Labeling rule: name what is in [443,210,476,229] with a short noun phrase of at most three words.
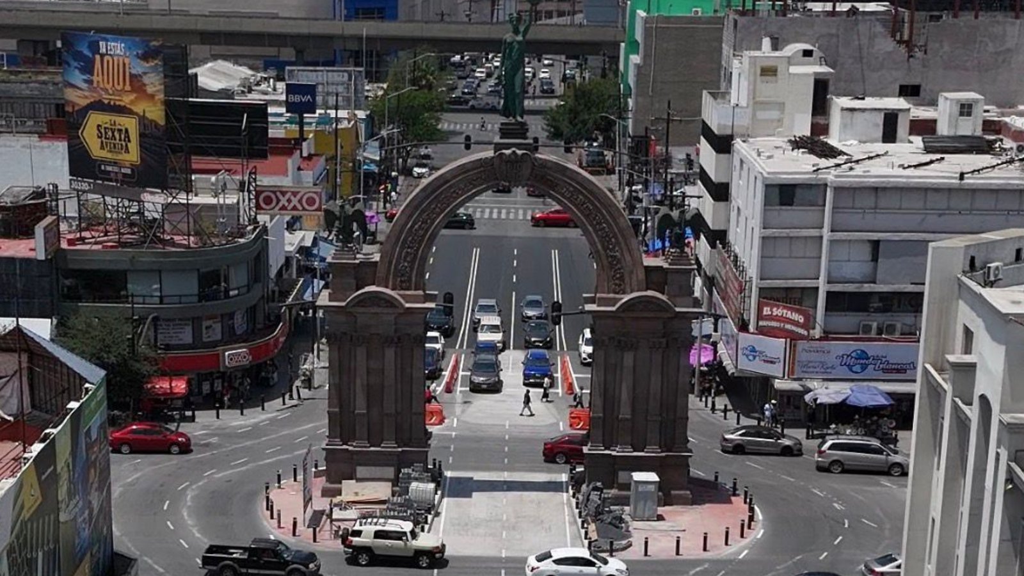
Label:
car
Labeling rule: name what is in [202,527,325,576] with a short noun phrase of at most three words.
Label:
truck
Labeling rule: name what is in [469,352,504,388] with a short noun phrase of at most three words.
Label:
car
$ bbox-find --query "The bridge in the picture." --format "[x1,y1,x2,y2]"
[0,5,618,82]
